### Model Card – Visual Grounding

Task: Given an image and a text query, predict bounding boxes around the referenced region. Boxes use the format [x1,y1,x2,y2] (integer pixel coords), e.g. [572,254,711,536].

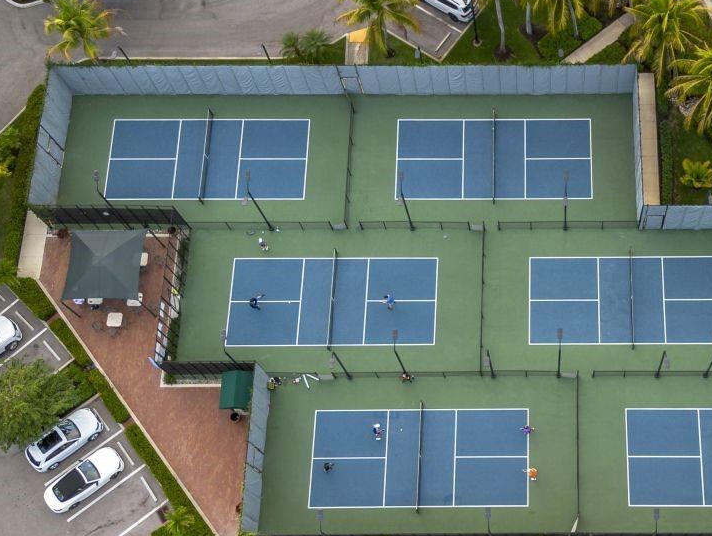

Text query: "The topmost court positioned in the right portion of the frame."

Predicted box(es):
[347,93,638,229]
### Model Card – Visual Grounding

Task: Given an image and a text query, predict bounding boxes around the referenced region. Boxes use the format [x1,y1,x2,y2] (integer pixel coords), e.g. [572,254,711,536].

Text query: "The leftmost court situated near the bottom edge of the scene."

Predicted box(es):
[259,376,578,535]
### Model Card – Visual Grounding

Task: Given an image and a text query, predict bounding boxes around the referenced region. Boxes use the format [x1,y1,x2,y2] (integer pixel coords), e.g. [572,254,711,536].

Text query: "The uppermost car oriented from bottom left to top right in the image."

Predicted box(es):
[25,409,103,472]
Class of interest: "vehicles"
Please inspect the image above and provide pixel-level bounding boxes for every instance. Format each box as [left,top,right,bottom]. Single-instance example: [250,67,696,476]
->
[0,319,23,359]
[415,0,478,22]
[25,409,103,472]
[43,449,126,516]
